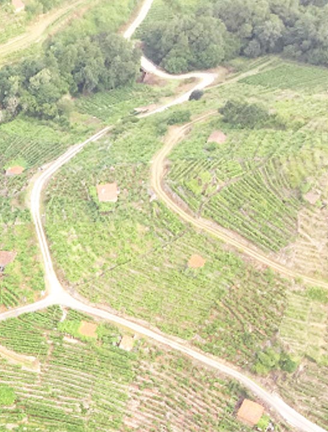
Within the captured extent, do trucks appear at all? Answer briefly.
No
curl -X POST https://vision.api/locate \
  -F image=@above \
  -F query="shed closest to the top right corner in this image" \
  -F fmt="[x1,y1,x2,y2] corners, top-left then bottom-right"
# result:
[204,129,226,151]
